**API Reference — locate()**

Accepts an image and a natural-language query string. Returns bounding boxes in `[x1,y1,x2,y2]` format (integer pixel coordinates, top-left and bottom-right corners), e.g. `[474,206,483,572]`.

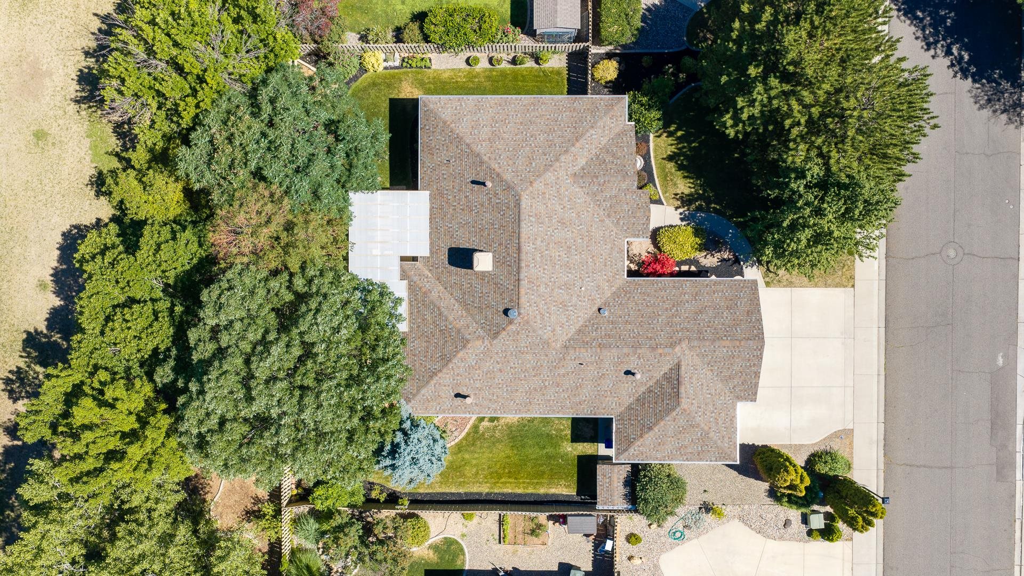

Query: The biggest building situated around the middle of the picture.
[404,94,766,465]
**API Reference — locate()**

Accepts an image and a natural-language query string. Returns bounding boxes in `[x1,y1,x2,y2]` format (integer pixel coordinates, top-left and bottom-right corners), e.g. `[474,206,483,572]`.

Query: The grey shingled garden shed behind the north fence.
[533,0,580,38]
